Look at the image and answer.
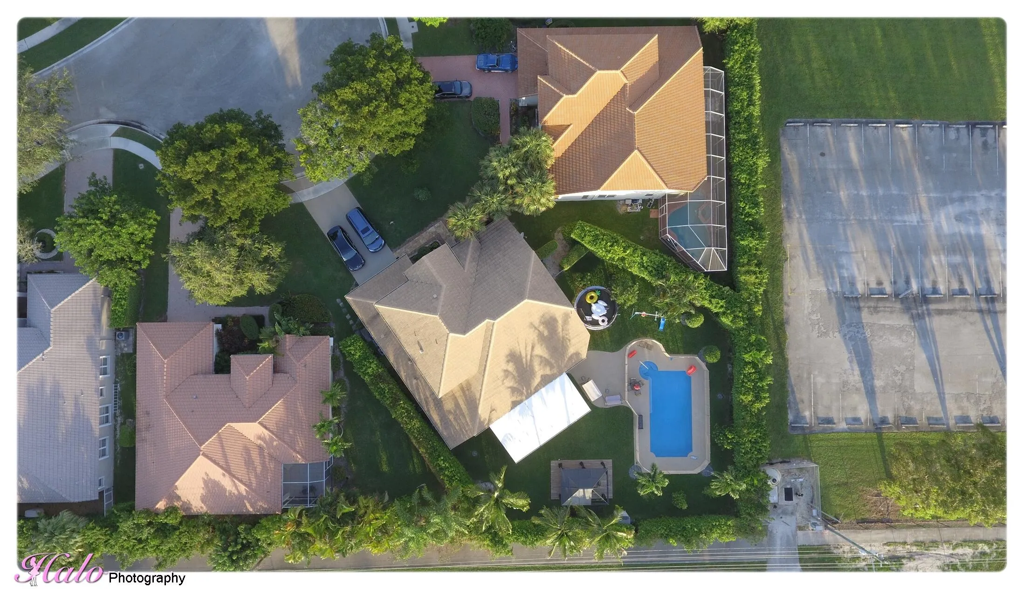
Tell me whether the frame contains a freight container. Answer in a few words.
No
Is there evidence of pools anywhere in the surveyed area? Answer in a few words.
Yes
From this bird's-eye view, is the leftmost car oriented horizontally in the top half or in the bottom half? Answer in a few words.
top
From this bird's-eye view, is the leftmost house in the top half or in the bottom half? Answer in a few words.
bottom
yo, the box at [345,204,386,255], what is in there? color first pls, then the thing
blue car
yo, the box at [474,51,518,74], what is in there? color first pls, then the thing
blue car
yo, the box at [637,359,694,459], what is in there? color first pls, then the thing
blue swimming pool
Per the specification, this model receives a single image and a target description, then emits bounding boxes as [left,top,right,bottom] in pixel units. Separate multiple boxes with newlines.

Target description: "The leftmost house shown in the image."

[0,273,117,504]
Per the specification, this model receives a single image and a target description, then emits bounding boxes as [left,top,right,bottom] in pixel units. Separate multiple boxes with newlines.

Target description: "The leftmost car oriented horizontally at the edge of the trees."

[426,78,474,101]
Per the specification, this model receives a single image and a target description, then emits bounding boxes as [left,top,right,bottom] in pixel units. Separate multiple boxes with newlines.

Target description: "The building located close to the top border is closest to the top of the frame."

[516,26,706,199]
